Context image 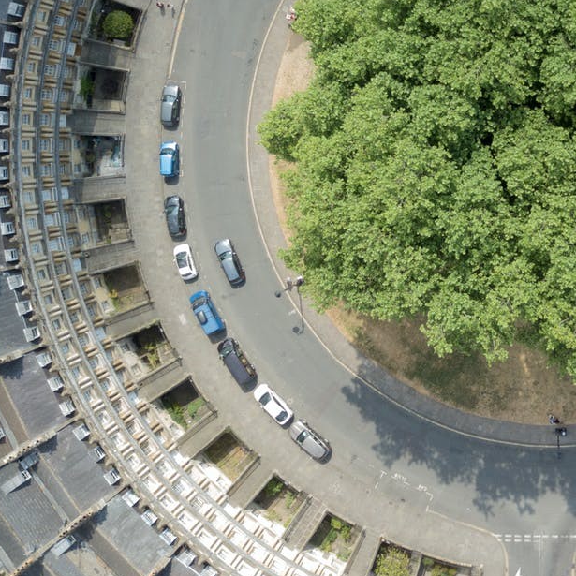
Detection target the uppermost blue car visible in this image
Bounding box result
[157,140,180,179]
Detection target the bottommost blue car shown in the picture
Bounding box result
[190,290,225,337]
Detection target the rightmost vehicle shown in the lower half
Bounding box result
[290,420,334,460]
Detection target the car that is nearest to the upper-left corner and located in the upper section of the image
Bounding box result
[159,82,183,126]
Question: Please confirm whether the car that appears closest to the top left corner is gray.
Yes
